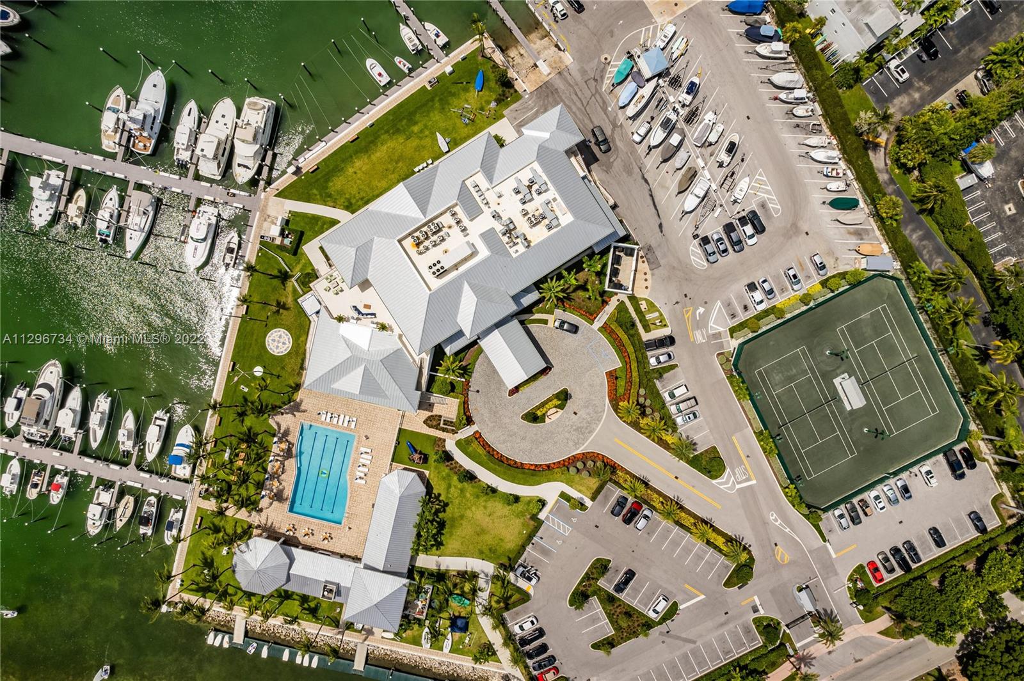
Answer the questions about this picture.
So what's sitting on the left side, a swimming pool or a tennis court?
swimming pool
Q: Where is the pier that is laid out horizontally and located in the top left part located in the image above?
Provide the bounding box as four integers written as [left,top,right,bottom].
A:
[0,130,259,210]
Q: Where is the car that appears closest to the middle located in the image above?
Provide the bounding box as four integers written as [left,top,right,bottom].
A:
[554,320,580,335]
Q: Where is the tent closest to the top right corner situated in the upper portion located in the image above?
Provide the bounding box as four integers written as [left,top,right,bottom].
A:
[634,44,670,81]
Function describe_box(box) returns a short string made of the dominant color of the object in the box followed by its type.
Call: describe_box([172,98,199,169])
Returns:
white boat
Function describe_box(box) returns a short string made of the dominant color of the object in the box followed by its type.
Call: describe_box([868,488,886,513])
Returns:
white car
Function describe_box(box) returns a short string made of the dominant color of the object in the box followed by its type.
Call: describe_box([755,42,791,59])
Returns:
white boat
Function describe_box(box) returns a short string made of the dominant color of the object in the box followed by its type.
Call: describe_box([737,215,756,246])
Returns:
white vehicle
